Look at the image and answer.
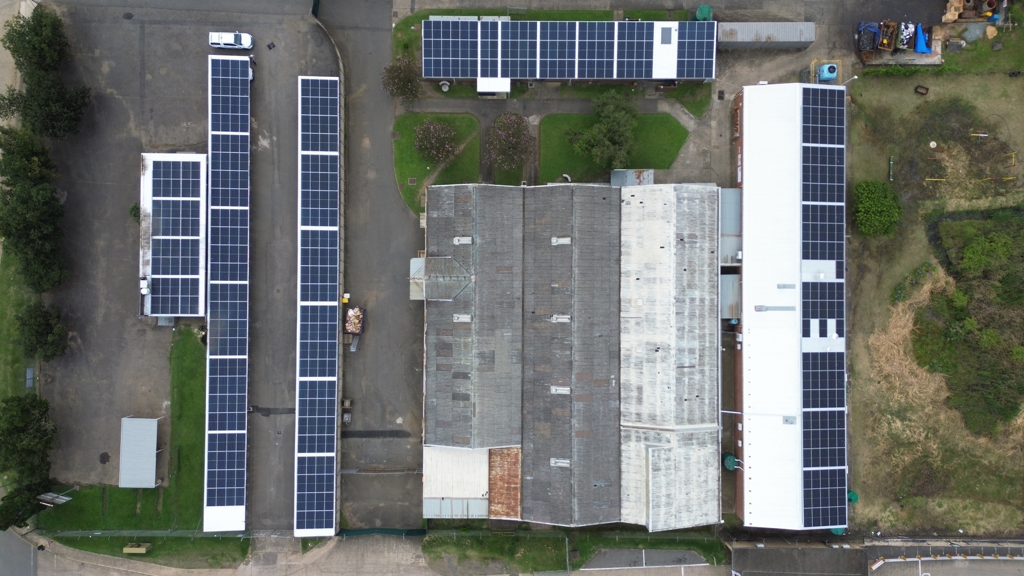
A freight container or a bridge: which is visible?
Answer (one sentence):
Visible in the photo is a freight container.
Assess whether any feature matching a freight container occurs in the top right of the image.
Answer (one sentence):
Yes, the scene does show a freight container in the top right of the image.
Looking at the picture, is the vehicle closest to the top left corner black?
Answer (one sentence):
No, the vehicle closest to the top left corner is actually white.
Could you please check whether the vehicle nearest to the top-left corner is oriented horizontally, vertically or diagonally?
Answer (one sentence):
The vehicle nearest to the top-left corner is oriented horizontally.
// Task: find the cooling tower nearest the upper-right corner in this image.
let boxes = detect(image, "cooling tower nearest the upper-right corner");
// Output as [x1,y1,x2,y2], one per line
[814,64,837,83]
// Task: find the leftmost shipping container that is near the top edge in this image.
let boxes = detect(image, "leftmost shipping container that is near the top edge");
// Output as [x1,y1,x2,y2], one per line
[716,22,815,49]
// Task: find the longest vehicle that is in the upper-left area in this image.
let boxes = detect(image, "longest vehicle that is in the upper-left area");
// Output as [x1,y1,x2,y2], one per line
[207,30,252,50]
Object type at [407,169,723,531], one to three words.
building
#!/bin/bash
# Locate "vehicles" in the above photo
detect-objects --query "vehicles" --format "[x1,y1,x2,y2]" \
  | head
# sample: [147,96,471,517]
[207,30,252,50]
[249,68,258,83]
